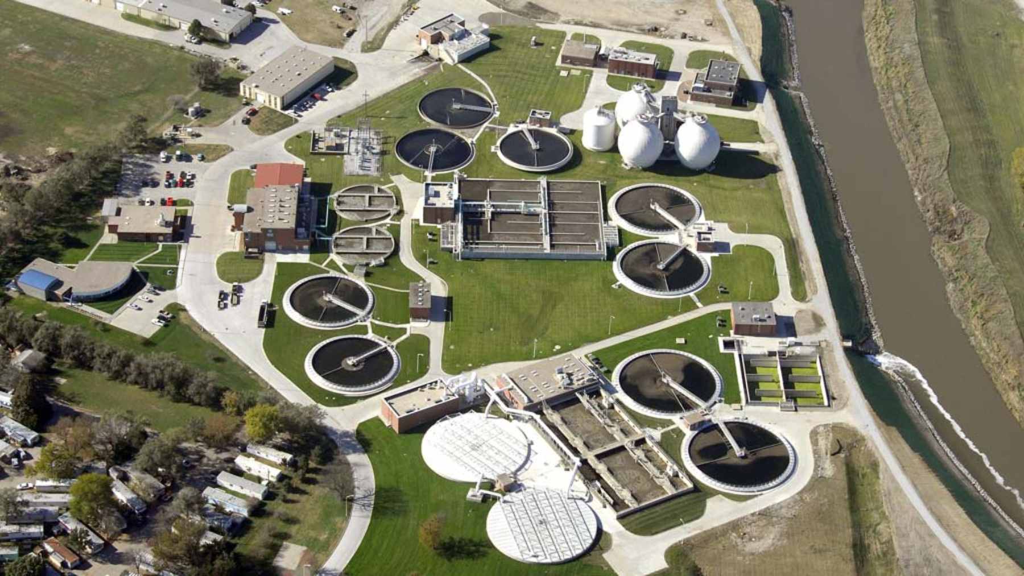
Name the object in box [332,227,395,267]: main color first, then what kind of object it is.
gray storage tank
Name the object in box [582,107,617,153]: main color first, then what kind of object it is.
white storage tank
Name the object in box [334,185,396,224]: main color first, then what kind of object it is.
gray storage tank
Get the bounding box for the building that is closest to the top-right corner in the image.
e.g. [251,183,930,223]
[690,60,744,106]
